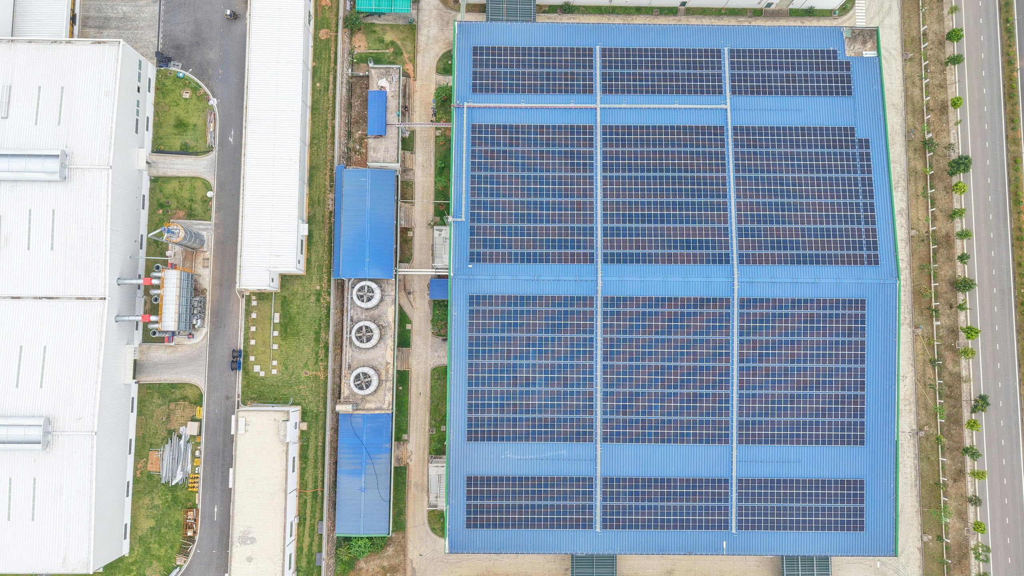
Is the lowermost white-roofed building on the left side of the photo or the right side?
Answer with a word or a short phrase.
left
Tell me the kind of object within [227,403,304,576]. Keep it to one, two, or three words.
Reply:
building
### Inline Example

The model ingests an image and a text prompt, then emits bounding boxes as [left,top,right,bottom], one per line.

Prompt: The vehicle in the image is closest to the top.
[221,7,240,19]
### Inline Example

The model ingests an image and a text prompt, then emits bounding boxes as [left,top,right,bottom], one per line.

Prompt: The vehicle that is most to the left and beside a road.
[147,47,168,66]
